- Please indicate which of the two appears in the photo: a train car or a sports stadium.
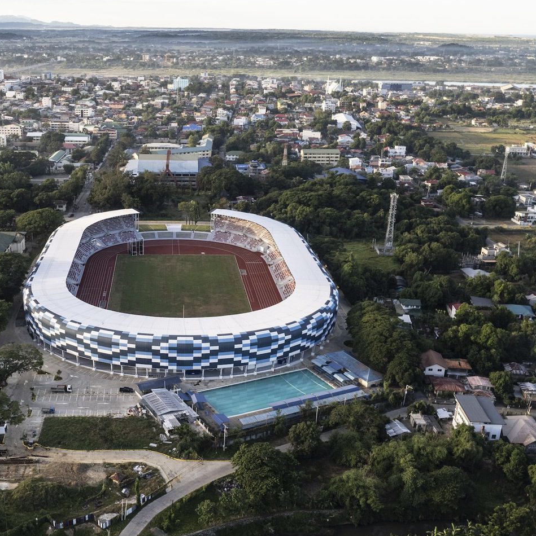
sports stadium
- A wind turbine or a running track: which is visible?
running track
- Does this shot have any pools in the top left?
No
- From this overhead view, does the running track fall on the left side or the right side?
left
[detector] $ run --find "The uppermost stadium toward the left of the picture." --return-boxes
[20,207,342,380]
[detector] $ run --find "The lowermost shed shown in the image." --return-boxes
[97,510,116,530]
